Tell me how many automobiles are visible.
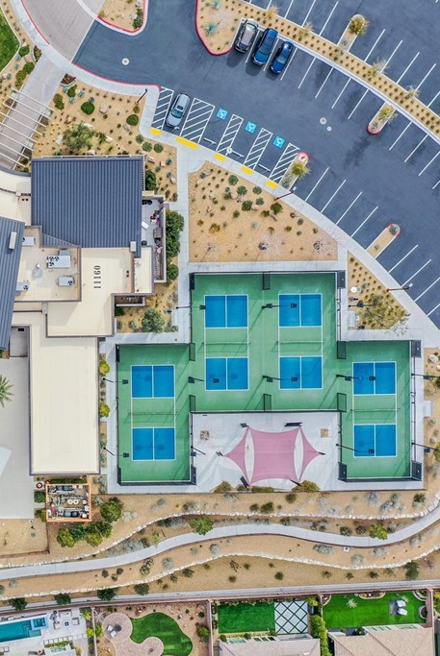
4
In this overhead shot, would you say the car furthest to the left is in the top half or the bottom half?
top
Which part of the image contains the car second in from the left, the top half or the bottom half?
top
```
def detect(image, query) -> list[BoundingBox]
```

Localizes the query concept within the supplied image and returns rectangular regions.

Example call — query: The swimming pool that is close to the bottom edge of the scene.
[0,616,50,644]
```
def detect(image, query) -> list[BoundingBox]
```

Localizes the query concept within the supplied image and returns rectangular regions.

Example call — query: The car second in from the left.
[235,15,259,51]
